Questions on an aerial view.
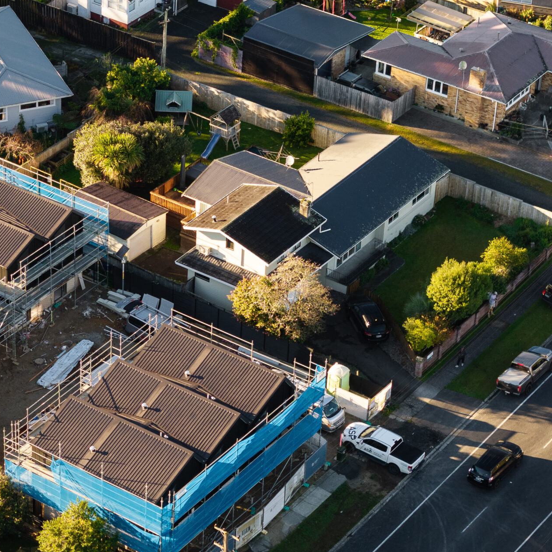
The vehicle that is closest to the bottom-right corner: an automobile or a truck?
automobile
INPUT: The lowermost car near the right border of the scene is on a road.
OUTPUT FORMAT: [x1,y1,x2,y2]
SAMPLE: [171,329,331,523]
[465,439,526,492]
